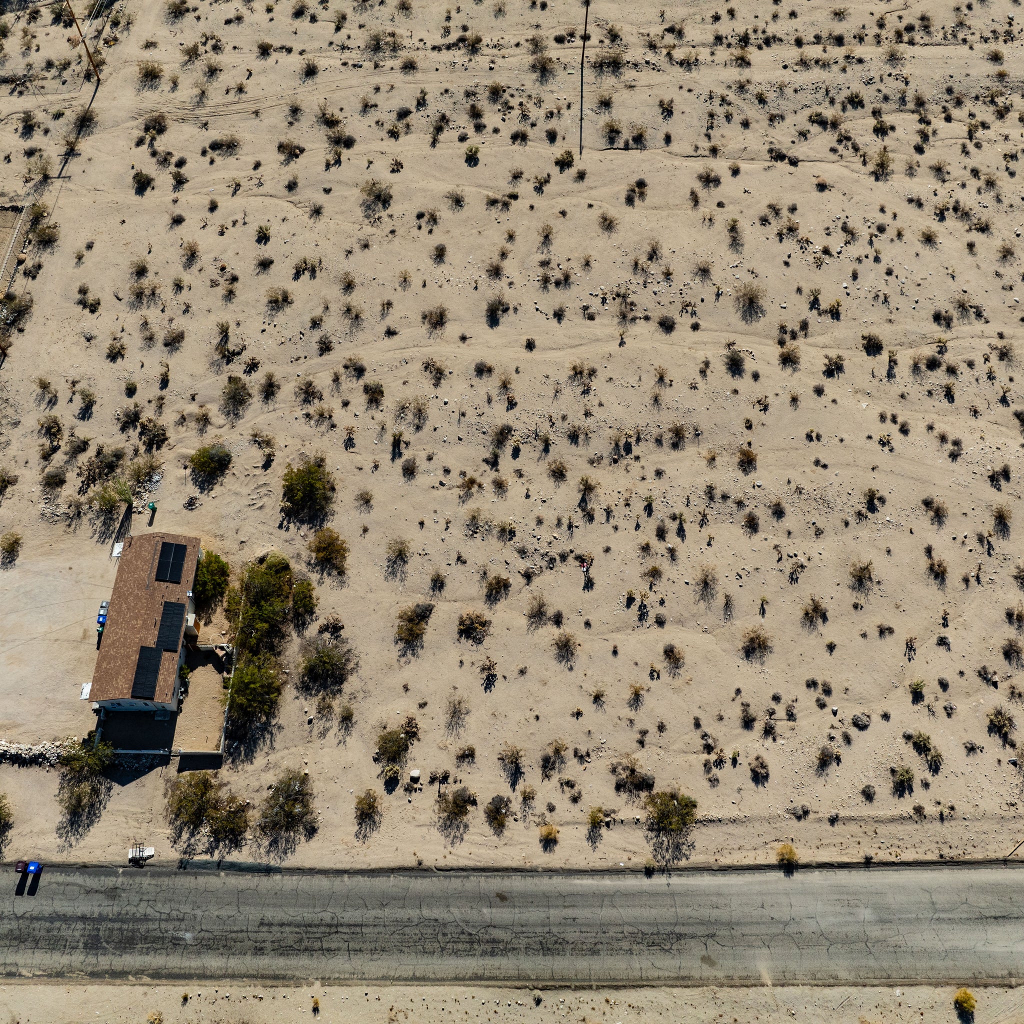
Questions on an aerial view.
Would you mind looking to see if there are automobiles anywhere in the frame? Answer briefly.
No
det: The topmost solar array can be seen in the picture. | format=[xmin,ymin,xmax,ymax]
[154,543,189,584]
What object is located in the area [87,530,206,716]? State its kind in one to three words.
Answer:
house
